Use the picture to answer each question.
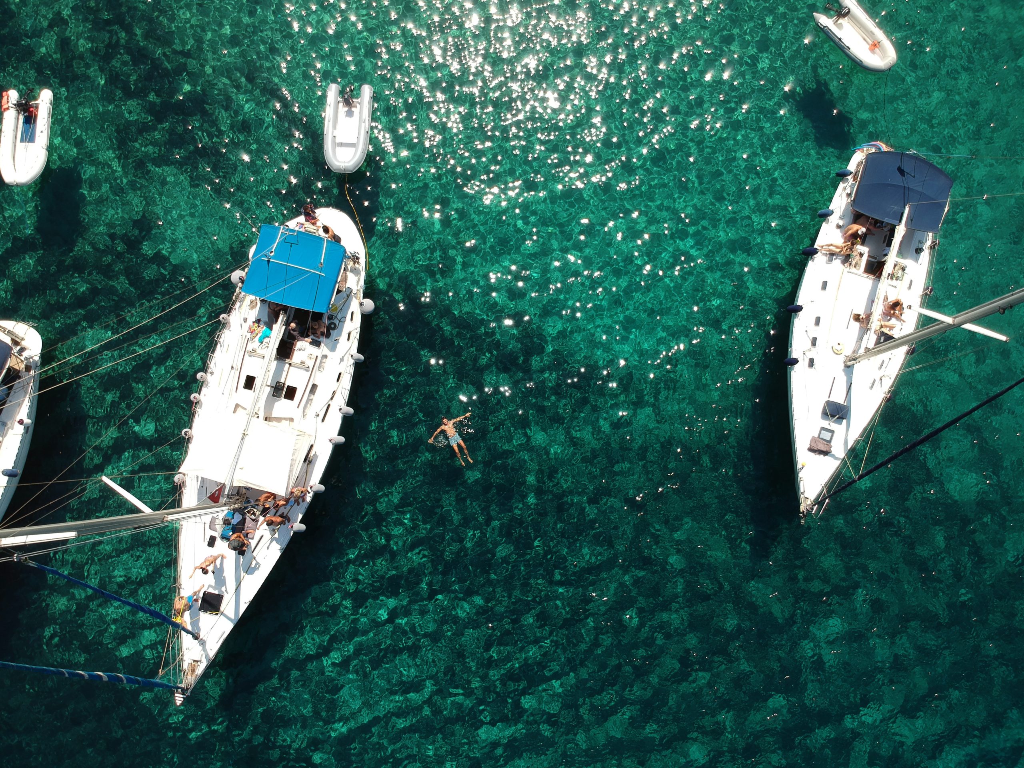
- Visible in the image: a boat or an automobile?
boat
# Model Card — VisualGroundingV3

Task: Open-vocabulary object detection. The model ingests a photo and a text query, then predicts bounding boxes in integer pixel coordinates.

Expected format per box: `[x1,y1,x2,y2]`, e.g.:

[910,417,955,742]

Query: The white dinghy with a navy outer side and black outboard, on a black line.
[807,0,897,72]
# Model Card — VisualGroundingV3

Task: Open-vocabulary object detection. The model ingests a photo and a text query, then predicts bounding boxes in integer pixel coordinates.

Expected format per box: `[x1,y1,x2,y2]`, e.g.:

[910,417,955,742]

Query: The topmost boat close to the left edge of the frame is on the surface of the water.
[0,85,55,183]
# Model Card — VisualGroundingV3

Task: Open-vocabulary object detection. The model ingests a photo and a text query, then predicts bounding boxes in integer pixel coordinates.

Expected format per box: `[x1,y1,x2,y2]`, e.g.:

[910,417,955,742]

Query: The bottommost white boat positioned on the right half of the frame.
[785,145,1024,525]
